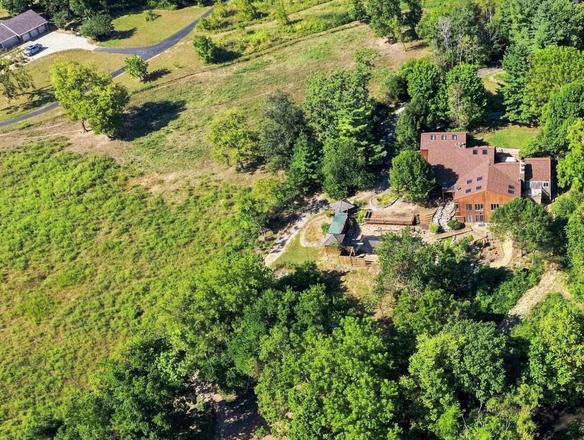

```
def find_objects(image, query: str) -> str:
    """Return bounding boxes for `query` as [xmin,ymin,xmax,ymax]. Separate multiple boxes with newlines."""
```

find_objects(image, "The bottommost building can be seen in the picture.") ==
[318,236,345,261]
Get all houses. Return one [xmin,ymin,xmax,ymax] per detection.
[419,132,552,225]
[0,11,53,53]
